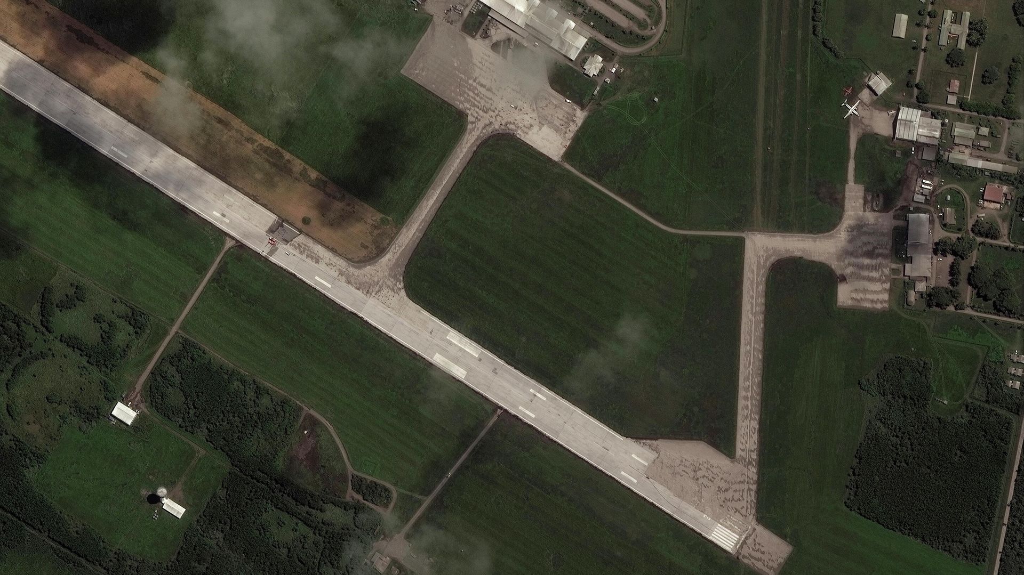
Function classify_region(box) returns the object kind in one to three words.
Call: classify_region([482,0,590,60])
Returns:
building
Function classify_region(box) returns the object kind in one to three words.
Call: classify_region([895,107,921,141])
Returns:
hangar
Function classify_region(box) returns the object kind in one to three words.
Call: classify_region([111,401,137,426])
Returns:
shed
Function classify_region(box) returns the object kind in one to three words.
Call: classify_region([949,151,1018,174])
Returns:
building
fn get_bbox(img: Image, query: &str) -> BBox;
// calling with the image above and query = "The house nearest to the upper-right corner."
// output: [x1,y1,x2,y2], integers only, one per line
[939,9,971,49]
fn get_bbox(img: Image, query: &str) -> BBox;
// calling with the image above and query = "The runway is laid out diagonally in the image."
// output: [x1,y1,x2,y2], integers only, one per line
[0,38,751,555]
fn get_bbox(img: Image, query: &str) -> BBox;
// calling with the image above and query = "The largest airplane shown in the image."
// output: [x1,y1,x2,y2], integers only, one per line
[841,99,859,118]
